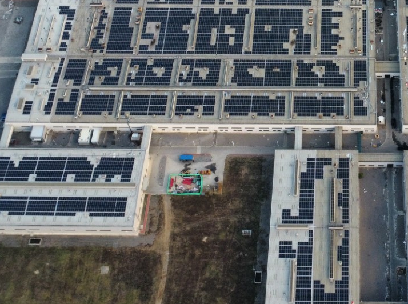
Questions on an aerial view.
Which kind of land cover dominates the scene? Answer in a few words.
buildings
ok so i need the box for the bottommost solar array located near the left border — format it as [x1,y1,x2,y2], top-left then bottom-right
[0,196,127,216]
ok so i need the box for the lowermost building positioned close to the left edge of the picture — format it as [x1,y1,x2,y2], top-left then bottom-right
[0,149,154,237]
